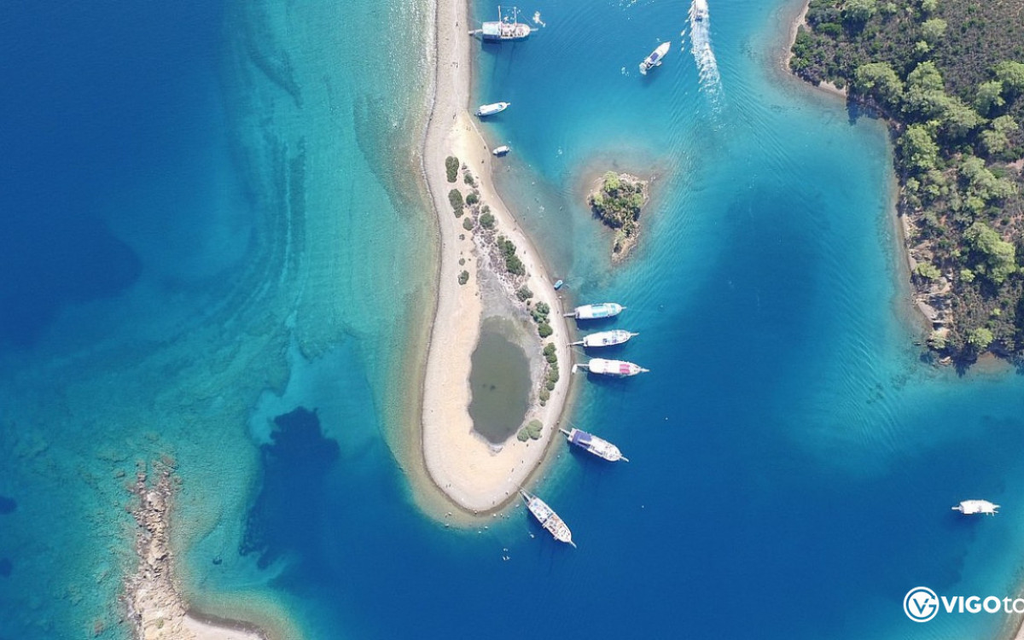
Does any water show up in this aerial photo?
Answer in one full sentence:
Yes, there's water in this view.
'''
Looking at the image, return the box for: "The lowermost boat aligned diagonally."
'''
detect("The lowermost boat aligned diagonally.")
[518,487,577,548]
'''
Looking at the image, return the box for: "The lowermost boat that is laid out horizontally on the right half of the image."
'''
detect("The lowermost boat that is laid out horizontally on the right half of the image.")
[952,501,1000,516]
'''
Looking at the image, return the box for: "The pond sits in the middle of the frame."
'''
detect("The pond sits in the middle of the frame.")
[471,330,529,440]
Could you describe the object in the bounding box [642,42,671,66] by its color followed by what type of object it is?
white boat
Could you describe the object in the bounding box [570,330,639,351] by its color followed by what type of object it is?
white boat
